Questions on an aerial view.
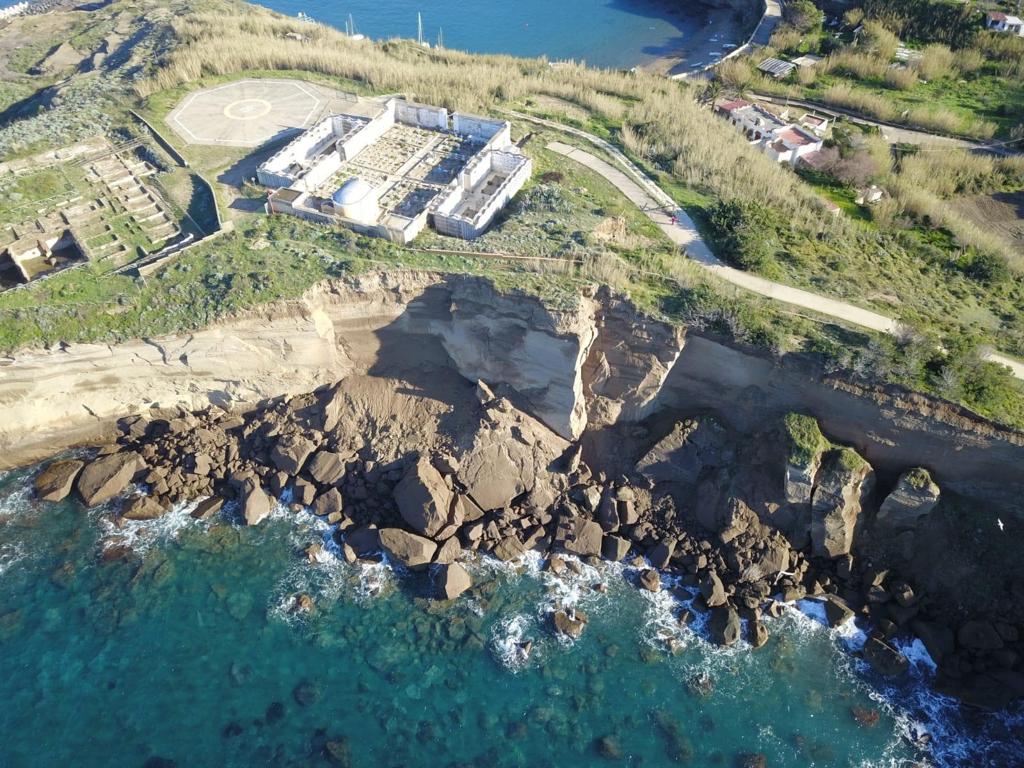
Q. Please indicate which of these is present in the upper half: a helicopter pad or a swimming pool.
helicopter pad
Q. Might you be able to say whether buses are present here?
No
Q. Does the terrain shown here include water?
Yes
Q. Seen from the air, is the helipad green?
No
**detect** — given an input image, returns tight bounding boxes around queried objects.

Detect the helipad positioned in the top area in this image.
[164,77,329,147]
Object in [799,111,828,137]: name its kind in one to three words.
building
